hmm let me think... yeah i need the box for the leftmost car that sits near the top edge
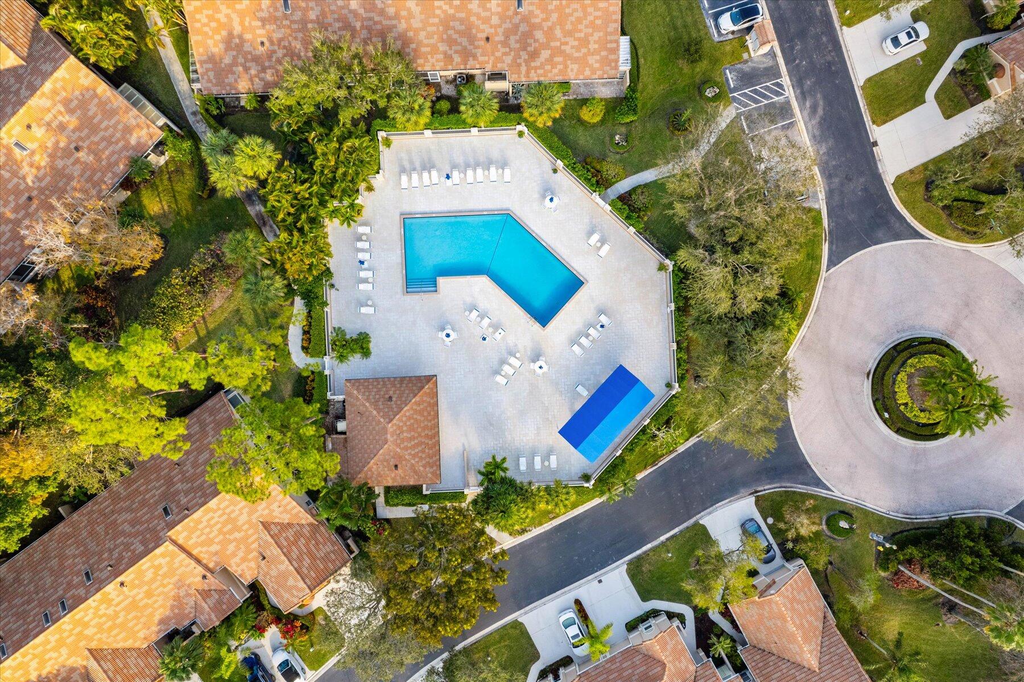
[716,0,765,34]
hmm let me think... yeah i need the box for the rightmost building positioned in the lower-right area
[726,554,880,682]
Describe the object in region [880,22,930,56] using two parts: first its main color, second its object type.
white car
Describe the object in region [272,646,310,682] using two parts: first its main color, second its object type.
white car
